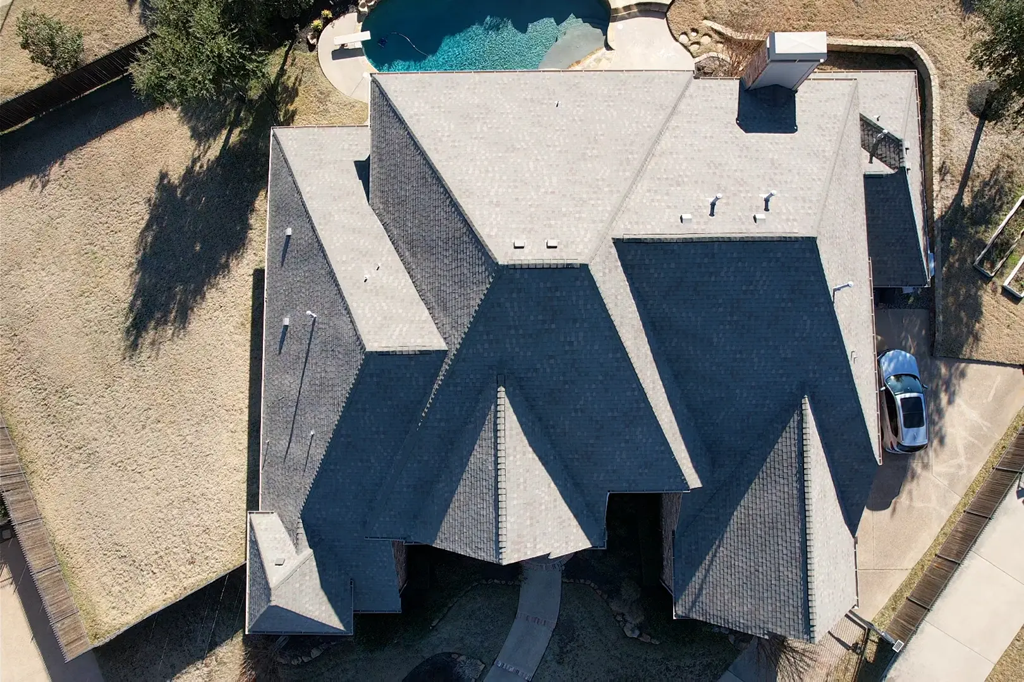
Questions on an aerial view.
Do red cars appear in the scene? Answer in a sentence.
No, the picture doesn't show any red car.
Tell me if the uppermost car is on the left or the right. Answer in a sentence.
The uppermost car is on the right side of the image.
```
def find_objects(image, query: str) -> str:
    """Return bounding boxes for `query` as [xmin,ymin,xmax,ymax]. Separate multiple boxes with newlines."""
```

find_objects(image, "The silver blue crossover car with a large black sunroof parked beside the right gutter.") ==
[879,348,936,455]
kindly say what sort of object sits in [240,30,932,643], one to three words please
house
